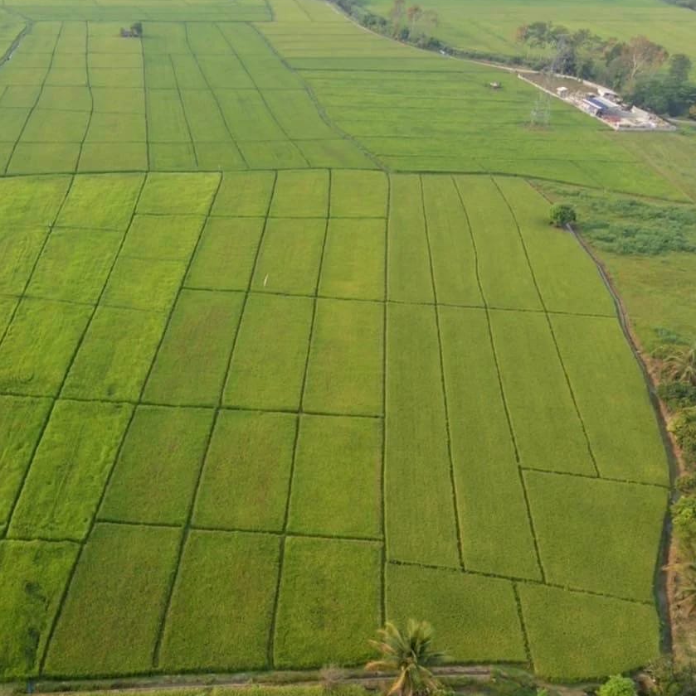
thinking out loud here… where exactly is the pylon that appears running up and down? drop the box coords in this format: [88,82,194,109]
[529,31,570,127]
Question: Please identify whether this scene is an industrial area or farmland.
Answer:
farmland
